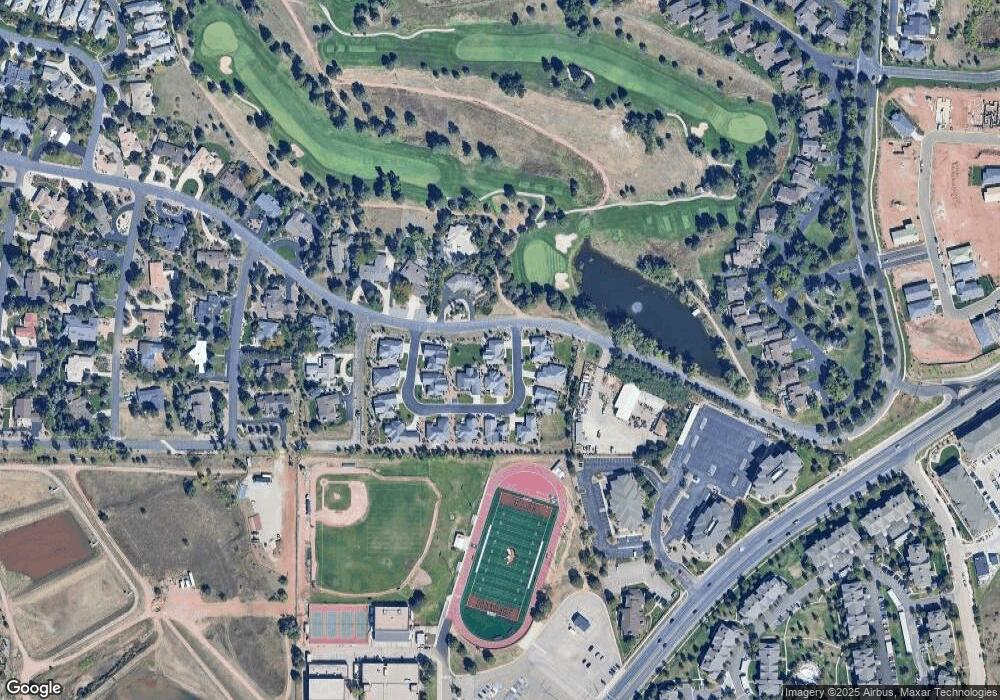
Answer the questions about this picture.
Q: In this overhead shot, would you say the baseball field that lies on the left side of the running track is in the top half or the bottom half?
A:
bottom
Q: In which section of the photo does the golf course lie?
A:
top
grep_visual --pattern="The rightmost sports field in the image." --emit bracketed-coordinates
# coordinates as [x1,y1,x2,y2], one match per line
[463,488,557,638]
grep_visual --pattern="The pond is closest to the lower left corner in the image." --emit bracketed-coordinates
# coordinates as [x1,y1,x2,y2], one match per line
[0,512,94,580]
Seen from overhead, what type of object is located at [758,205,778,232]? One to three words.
house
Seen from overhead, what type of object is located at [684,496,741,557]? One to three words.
building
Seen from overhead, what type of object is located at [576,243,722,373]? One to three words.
pond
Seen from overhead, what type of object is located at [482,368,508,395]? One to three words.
house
